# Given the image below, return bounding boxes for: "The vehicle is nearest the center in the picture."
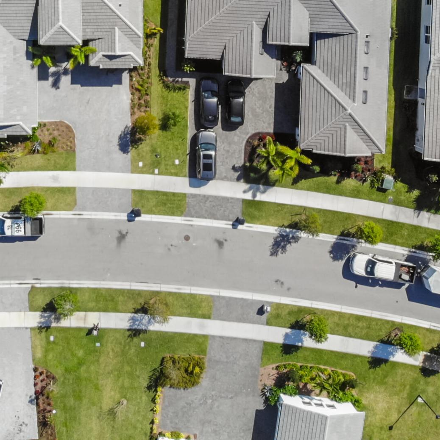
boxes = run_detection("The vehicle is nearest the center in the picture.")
[196,129,219,181]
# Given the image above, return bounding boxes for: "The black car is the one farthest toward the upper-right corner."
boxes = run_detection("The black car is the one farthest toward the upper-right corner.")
[225,79,249,128]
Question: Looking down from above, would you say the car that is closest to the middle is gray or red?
gray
